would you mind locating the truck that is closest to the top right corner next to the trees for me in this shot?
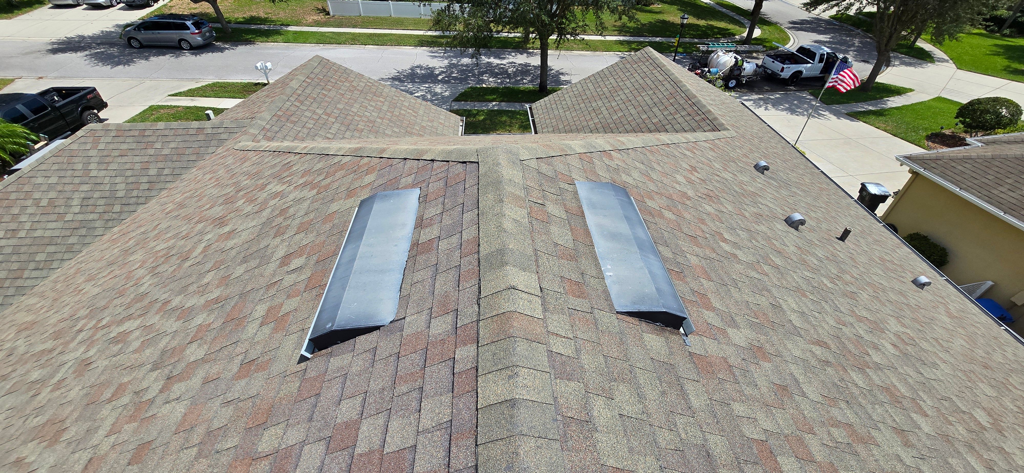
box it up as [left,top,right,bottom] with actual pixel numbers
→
[757,38,863,87]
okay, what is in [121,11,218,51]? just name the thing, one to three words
car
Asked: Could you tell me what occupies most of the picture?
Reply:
buildings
